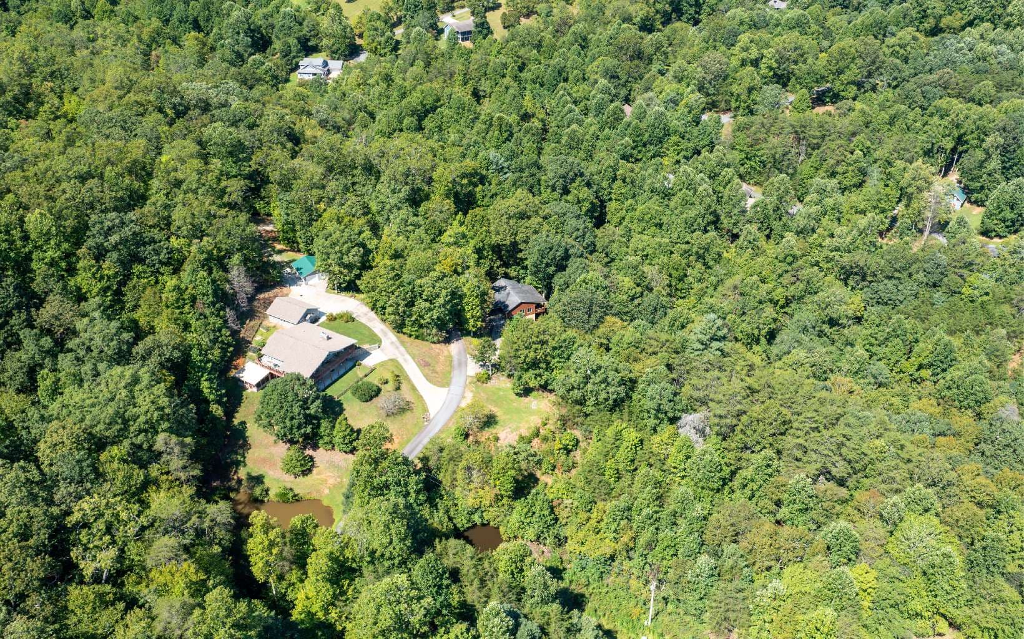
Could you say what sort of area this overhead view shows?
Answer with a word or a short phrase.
forest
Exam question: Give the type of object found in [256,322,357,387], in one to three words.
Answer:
house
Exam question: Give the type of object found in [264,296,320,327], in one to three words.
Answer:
building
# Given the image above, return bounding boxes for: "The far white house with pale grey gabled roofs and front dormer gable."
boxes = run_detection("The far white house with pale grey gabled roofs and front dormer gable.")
[295,53,348,76]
